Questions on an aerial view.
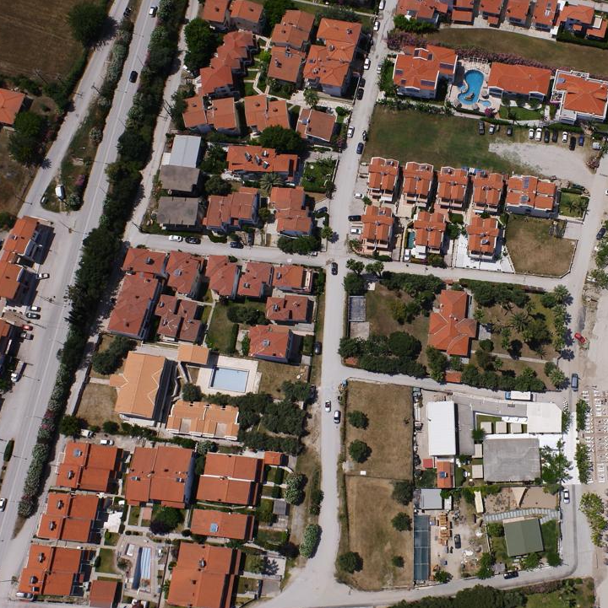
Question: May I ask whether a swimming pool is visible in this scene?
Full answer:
Yes, you can see a swimming pool in this photo.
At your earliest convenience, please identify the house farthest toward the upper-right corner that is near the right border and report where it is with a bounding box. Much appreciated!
[557,5,608,42]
